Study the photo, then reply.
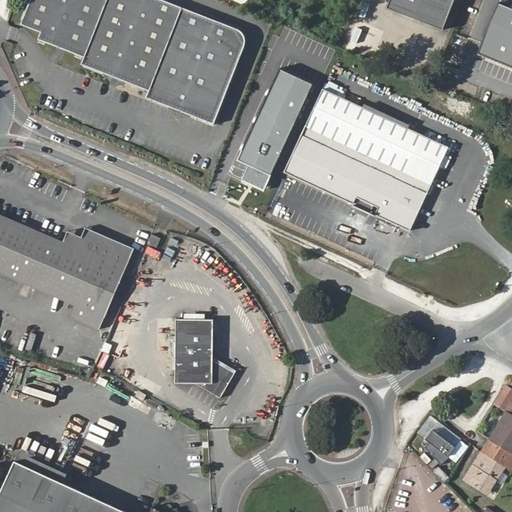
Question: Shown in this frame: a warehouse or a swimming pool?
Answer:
warehouse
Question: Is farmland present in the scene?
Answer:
No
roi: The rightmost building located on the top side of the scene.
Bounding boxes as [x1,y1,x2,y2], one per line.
[478,3,512,70]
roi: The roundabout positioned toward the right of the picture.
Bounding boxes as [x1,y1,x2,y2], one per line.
[281,372,395,486]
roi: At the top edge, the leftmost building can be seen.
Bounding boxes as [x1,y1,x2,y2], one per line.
[21,0,108,58]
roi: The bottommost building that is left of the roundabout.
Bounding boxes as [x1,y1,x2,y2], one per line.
[0,460,127,512]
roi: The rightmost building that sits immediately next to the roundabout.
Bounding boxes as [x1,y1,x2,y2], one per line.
[418,416,468,465]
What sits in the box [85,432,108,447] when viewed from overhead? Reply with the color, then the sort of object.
white vehicle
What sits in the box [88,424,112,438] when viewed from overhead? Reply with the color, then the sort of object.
white vehicle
